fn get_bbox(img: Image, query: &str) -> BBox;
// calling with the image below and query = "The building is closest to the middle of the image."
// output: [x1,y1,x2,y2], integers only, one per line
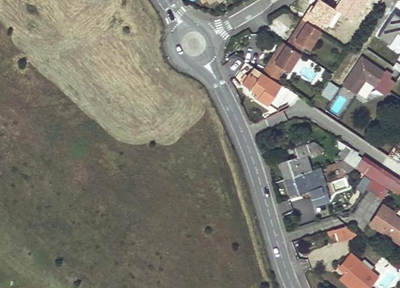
[242,70,281,106]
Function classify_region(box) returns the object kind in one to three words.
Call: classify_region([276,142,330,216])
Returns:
house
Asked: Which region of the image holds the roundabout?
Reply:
top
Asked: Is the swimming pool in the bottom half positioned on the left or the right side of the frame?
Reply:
right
